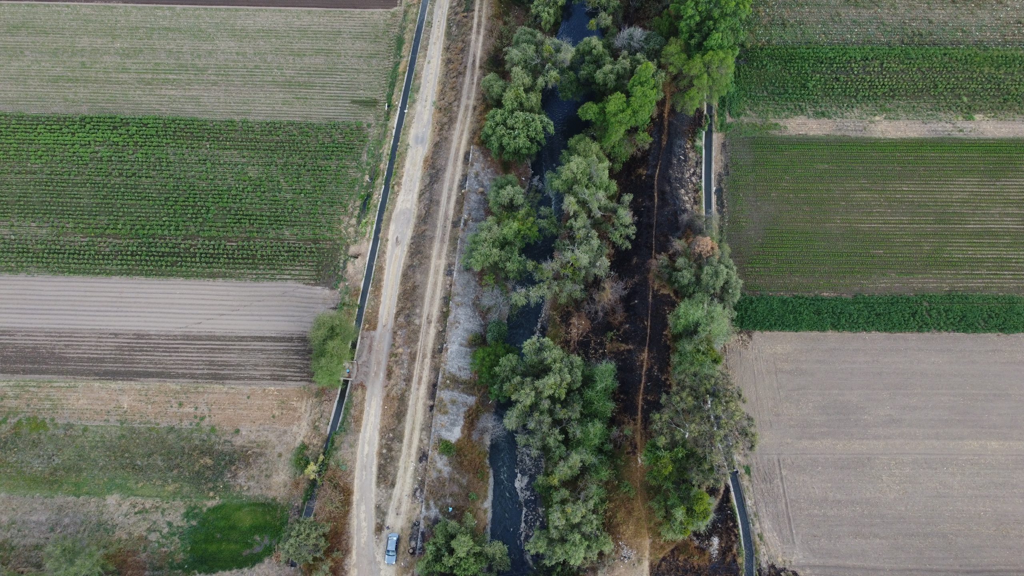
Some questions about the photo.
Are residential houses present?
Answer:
No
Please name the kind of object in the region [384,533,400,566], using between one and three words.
car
